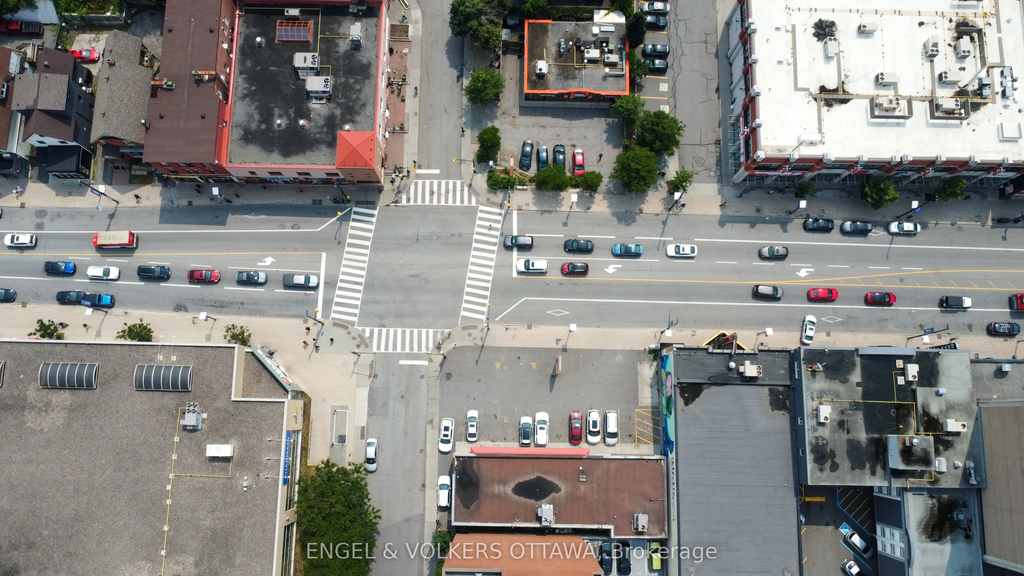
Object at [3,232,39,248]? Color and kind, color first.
white car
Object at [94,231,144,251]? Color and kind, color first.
white vehicle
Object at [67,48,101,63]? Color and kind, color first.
red car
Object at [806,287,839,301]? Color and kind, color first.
red car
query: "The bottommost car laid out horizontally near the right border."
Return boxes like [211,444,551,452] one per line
[987,321,1021,336]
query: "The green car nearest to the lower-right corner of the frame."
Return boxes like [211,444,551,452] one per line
[649,541,664,571]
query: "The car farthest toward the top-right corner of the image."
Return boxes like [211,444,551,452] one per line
[886,221,922,236]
